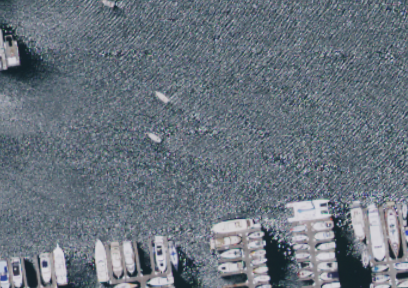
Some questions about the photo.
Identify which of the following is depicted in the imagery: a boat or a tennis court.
boat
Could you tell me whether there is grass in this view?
No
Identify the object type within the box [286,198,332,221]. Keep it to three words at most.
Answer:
boat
